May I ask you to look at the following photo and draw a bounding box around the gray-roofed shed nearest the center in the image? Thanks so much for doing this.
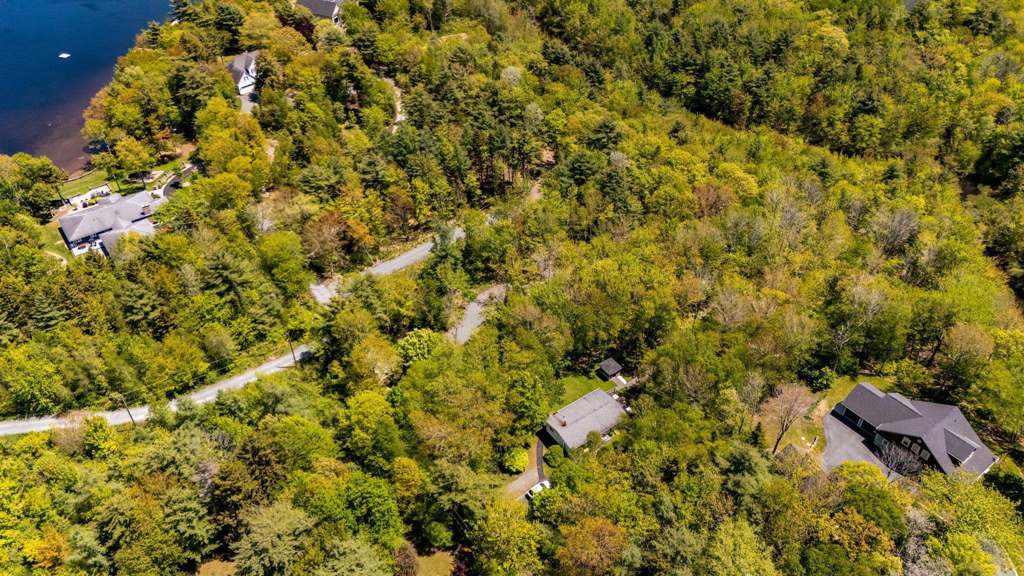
[598,358,622,384]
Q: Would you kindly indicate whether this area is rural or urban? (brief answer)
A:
rural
